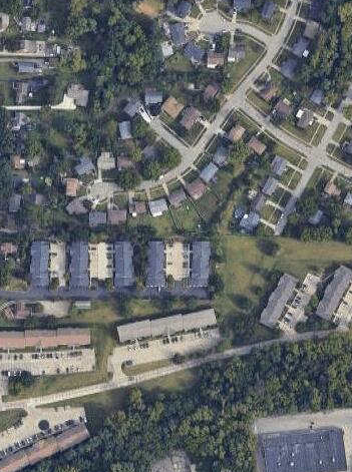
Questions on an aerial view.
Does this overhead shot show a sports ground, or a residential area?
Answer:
residential area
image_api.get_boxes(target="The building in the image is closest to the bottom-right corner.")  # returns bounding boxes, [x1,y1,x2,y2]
[262,427,347,472]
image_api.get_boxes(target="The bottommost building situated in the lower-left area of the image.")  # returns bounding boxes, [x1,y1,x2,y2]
[0,424,89,472]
